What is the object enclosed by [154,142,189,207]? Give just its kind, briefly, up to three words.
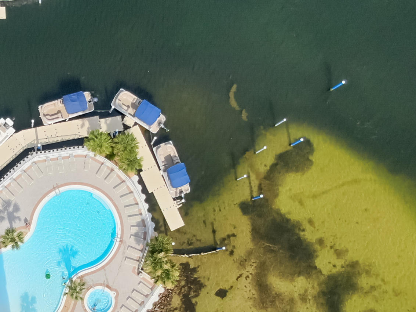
boat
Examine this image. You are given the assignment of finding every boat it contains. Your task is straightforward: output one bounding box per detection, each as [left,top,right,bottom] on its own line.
[0,117,20,146]
[112,90,170,134]
[39,94,103,125]
[154,142,189,207]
